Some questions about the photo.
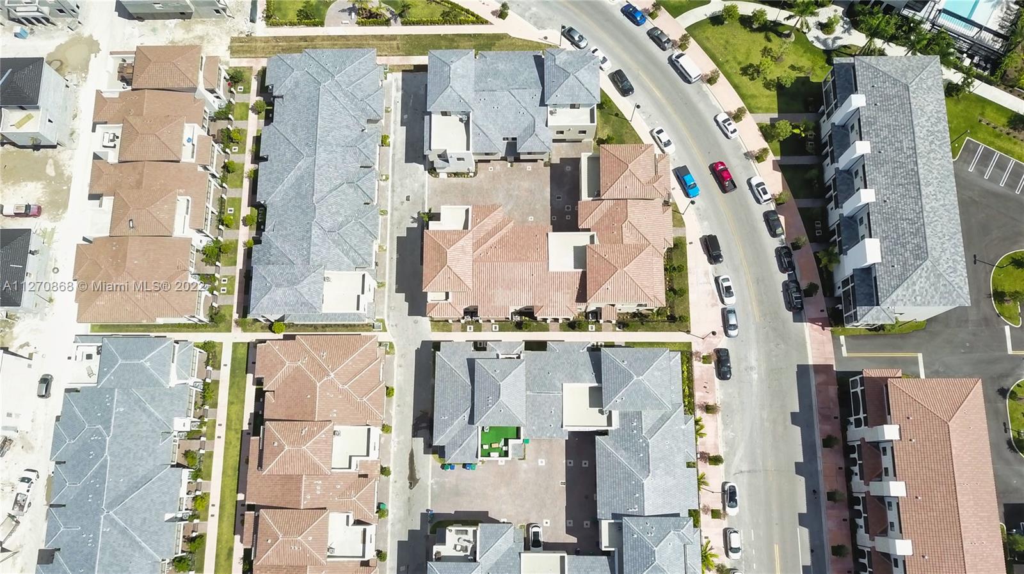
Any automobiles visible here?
Yes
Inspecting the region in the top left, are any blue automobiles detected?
No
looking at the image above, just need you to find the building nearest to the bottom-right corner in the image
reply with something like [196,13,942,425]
[839,368,1007,574]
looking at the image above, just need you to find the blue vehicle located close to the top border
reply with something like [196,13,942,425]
[619,1,646,26]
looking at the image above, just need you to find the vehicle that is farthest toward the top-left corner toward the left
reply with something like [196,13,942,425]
[3,201,44,218]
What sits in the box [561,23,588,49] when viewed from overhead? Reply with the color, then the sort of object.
gray car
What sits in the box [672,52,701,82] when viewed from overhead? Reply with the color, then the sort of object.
white van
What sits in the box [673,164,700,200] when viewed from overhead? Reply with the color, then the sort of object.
blue truck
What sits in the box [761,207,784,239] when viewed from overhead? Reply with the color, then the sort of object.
black car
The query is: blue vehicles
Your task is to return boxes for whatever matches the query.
[673,164,700,200]
[619,1,646,26]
